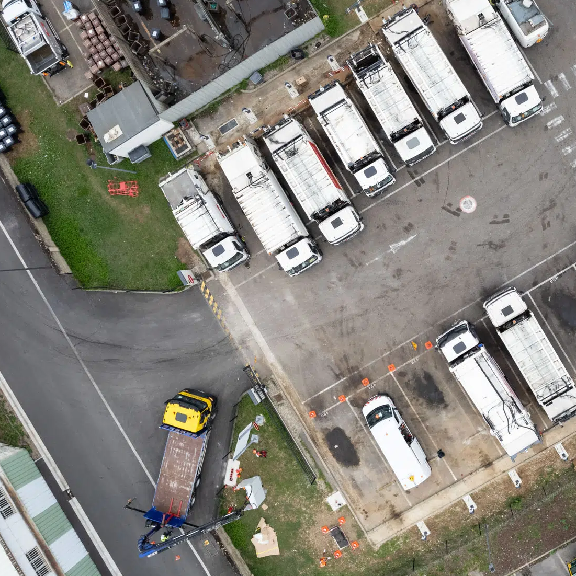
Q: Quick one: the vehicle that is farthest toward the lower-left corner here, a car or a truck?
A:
truck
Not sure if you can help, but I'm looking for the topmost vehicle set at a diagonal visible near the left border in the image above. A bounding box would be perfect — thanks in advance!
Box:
[0,0,77,88]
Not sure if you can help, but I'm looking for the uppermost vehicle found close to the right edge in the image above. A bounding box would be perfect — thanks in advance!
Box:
[492,0,549,56]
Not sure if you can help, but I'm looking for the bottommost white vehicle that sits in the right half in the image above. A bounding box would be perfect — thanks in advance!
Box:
[365,393,431,486]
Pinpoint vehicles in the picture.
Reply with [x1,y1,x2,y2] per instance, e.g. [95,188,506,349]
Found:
[346,41,442,171]
[158,164,251,273]
[492,0,549,56]
[433,322,541,459]
[439,0,546,128]
[122,388,254,559]
[304,74,400,197]
[0,0,77,88]
[365,393,431,486]
[379,2,487,146]
[478,283,576,427]
[214,138,324,276]
[260,109,368,247]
